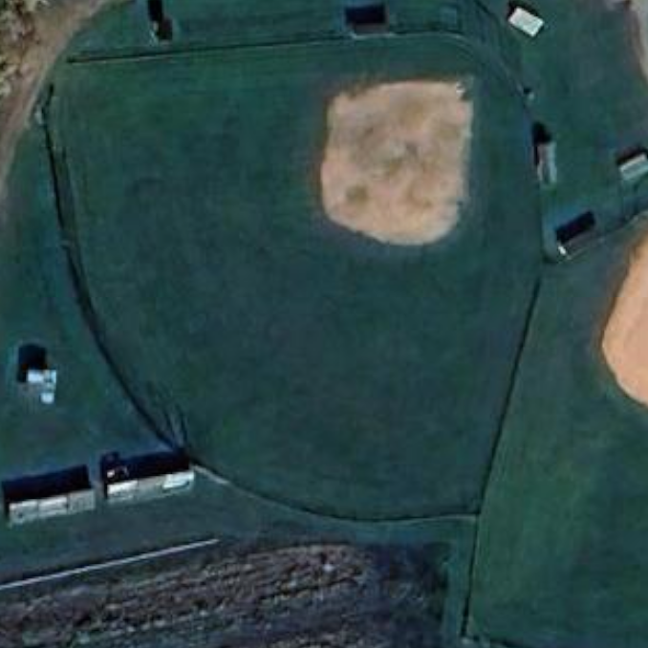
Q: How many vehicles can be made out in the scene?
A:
zero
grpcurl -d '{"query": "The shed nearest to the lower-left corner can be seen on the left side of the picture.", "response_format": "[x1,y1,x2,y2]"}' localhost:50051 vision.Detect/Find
[4,486,96,530]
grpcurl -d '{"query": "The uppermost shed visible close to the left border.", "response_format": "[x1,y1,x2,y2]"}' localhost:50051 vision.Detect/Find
[23,369,58,389]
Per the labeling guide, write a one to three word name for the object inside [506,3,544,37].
shed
